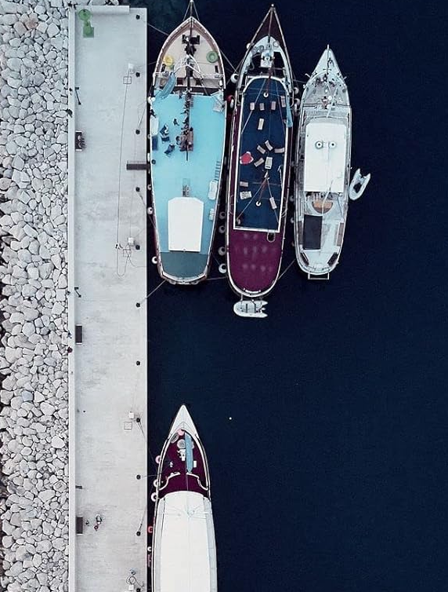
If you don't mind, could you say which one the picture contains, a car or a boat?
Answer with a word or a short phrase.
boat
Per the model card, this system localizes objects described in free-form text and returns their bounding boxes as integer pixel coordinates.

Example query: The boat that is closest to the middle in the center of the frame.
[233,300,268,317]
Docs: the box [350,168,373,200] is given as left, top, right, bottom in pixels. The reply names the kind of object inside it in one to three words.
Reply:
boat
